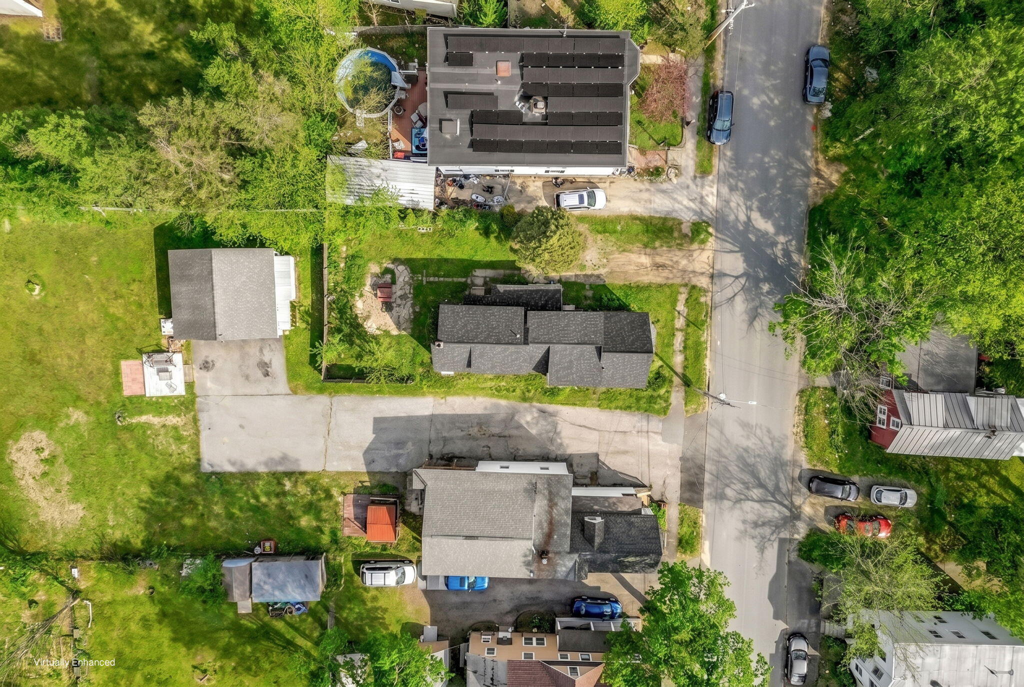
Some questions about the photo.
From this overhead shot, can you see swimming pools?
Yes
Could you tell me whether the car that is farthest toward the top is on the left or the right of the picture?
right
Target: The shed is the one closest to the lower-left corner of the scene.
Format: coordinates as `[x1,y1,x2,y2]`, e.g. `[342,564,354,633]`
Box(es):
[222,558,254,602]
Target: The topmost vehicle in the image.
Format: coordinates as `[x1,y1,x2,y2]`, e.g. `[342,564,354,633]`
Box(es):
[801,48,830,104]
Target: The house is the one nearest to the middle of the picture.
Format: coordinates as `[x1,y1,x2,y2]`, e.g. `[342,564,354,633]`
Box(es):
[431,284,657,388]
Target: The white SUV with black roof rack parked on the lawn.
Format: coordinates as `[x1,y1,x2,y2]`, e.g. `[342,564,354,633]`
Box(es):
[363,557,417,585]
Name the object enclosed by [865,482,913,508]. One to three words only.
car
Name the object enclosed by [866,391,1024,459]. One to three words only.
house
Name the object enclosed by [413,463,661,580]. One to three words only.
house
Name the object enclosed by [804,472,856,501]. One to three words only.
car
